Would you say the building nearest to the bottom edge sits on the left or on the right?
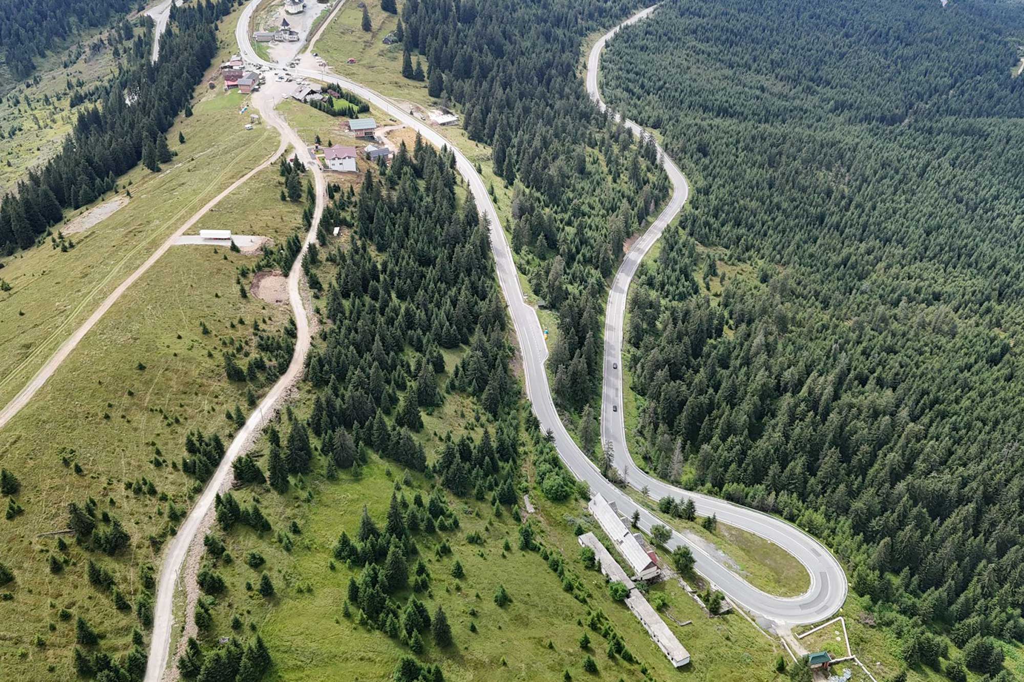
right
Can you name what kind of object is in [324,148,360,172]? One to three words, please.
house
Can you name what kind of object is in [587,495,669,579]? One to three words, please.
building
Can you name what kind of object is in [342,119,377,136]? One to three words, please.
house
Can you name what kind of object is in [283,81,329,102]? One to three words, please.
building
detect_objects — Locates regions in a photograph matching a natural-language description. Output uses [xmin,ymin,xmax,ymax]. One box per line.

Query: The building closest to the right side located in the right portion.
[804,648,833,668]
